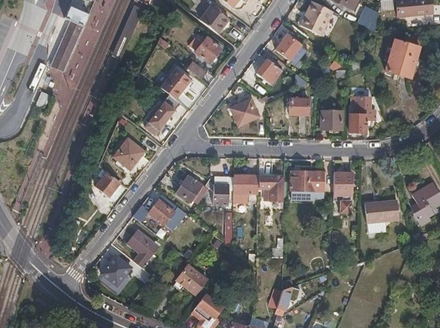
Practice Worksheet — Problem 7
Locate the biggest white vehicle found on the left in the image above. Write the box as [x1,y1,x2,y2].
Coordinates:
[28,62,46,90]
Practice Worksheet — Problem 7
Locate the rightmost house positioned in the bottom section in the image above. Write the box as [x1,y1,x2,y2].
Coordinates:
[409,182,440,222]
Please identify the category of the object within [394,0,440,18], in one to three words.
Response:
house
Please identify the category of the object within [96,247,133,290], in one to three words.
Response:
house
